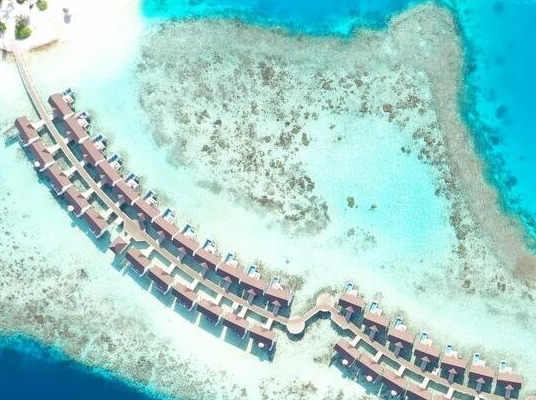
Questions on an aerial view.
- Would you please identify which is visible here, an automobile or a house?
house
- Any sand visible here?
Yes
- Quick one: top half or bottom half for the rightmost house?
bottom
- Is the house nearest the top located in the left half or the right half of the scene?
left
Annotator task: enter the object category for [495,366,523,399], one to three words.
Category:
house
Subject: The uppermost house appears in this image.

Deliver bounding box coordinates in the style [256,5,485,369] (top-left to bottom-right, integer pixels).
[47,93,77,124]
